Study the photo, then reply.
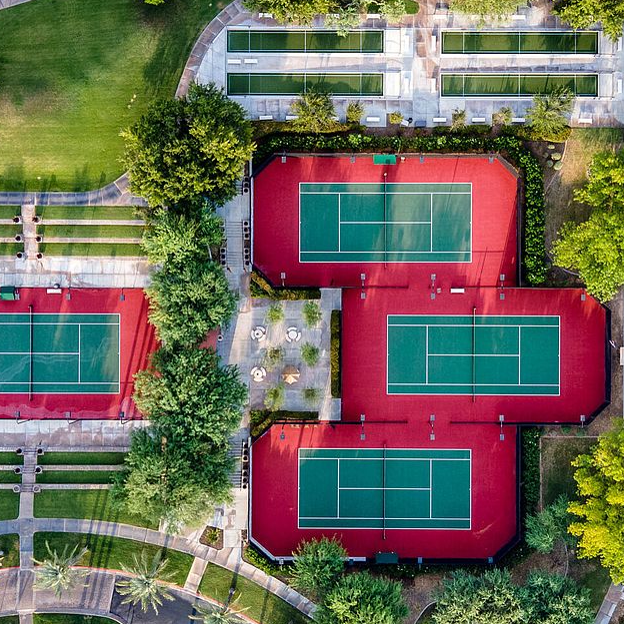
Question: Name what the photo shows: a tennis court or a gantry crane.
tennis court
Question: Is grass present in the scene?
Yes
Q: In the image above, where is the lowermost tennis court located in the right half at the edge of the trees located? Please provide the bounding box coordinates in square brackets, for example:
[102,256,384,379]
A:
[251,424,516,558]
